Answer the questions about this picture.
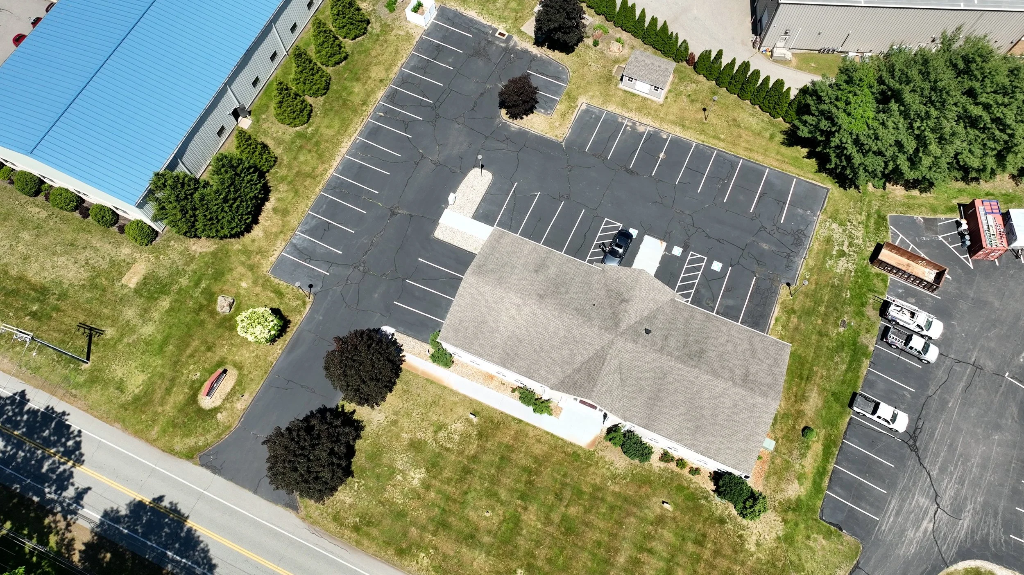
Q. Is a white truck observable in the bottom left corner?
No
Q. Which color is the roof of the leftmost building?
blue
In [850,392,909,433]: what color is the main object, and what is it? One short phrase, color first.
white truck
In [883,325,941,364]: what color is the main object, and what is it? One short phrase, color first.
white truck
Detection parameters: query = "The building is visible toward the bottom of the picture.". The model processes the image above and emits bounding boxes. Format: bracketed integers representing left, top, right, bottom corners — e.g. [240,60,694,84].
[438,225,790,478]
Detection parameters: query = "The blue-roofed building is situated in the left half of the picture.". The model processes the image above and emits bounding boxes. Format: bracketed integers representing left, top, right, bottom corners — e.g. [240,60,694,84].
[0,0,325,233]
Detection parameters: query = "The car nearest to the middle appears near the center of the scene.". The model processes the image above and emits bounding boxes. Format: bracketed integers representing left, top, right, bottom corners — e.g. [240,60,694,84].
[599,228,633,266]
